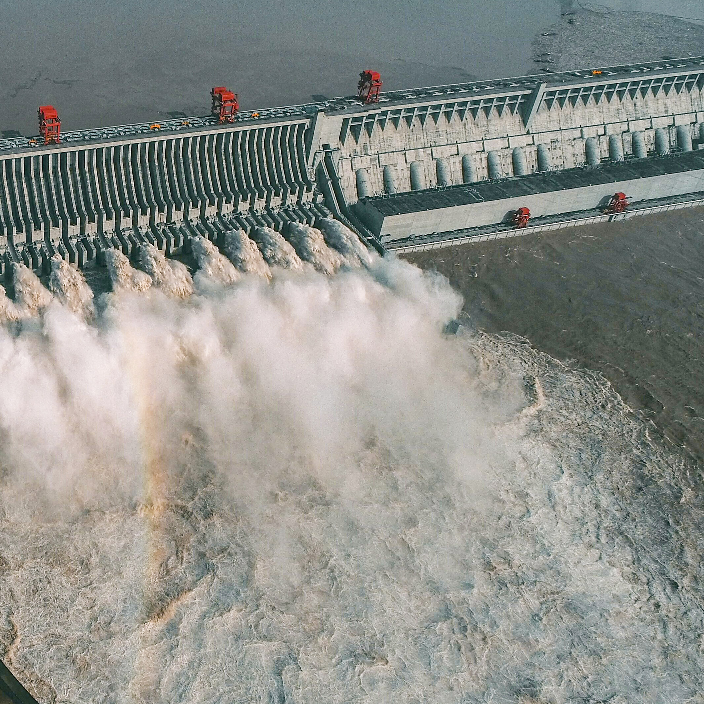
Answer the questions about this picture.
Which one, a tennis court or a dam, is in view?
dam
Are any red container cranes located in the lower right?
No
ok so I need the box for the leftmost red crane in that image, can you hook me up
[39,103,61,143]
